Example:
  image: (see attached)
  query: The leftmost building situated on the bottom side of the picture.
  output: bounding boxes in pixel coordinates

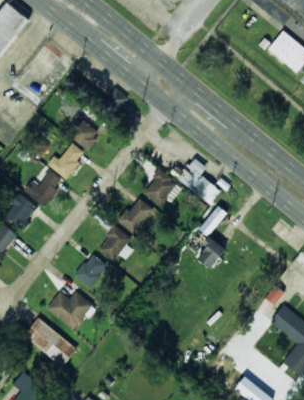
[0,226,18,259]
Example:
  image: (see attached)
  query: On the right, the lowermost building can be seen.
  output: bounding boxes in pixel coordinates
[235,377,272,400]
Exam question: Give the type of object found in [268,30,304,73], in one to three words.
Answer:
building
